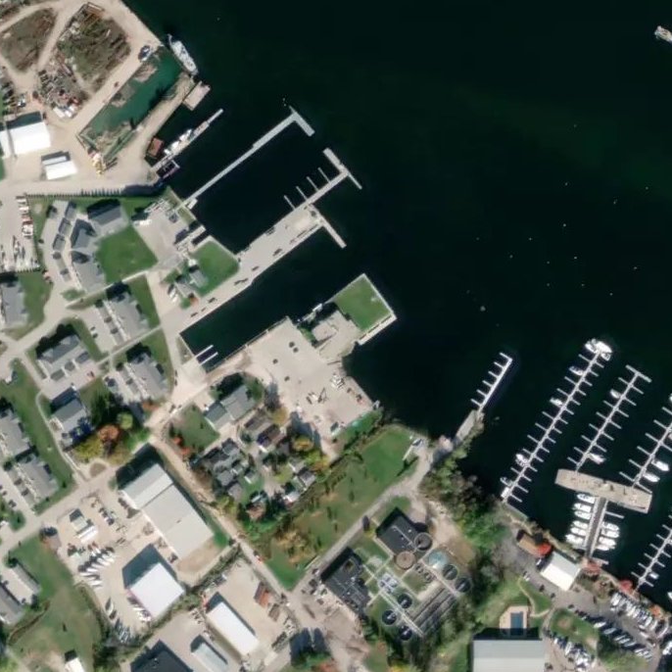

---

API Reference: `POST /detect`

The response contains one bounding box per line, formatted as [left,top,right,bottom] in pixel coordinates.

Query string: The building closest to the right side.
[540,551,581,592]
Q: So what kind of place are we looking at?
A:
port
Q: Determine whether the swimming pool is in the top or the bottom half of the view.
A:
bottom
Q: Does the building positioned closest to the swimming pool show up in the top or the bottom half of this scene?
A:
bottom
